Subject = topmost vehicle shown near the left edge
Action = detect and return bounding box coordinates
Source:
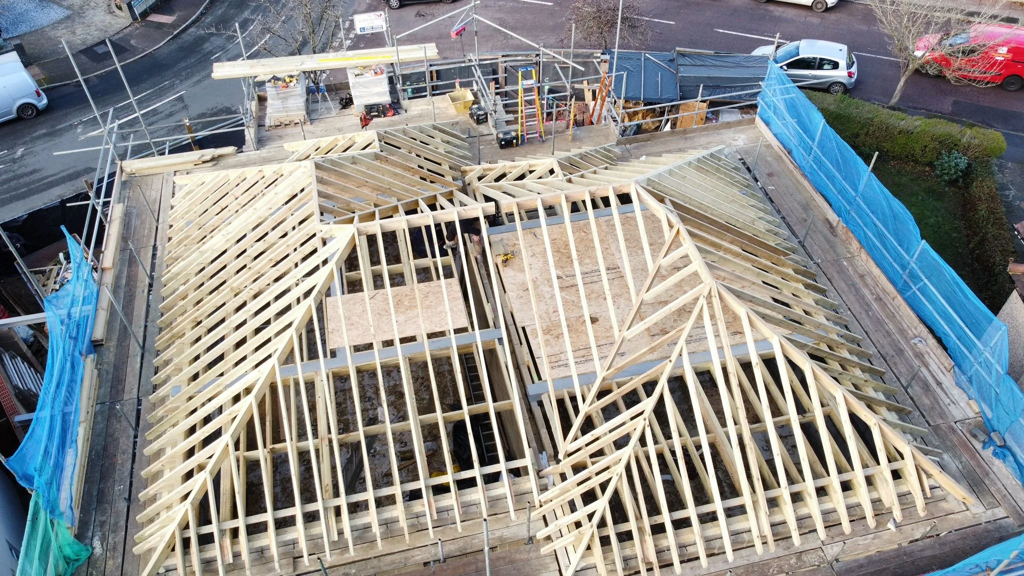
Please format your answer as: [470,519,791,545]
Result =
[0,50,49,120]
